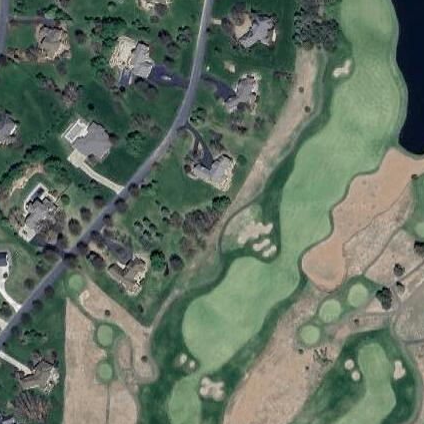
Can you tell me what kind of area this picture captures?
golf course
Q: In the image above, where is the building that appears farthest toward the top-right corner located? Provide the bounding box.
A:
[234,12,276,49]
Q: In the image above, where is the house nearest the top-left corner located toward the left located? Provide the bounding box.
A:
[37,25,69,60]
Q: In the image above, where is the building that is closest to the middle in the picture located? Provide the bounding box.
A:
[191,152,235,190]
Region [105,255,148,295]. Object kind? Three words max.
house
